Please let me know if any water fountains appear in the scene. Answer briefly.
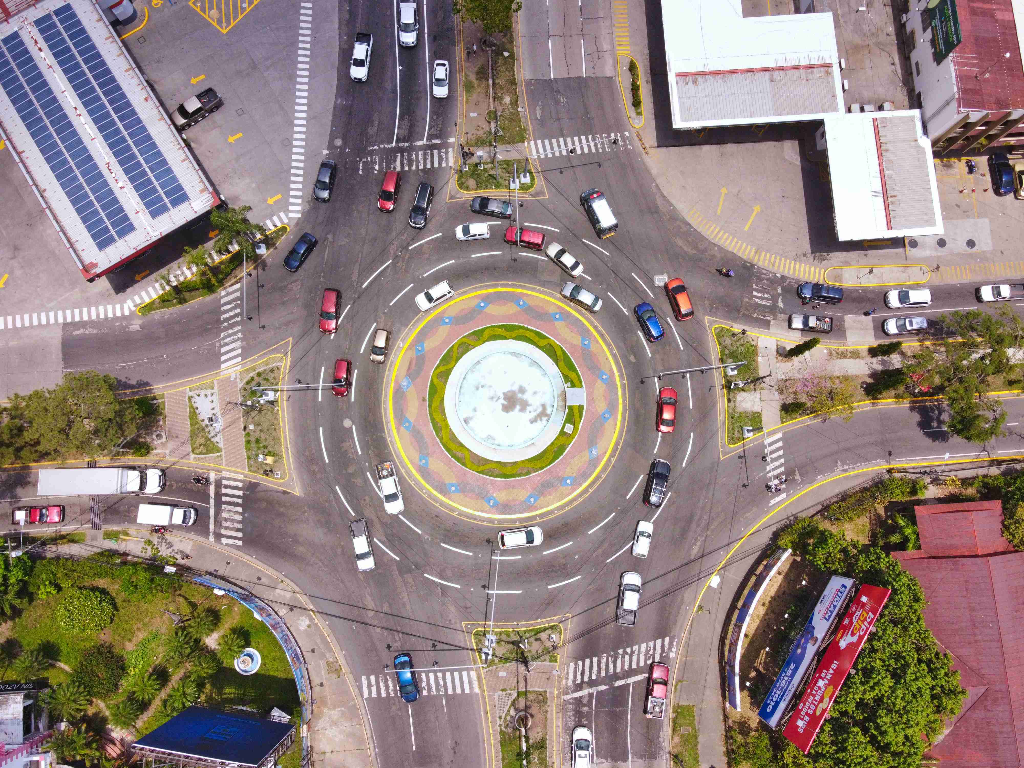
Yes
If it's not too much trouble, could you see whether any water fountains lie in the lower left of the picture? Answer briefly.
Yes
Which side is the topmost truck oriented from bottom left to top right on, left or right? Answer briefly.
left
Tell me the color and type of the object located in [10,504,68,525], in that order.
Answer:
red truck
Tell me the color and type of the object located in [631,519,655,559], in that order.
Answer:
white car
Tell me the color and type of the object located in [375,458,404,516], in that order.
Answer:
white truck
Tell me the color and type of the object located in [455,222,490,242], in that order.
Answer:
white car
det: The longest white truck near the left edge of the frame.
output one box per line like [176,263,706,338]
[25,467,172,496]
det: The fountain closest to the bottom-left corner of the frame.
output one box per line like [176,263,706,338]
[232,648,261,678]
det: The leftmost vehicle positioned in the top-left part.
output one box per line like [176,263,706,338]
[172,87,225,129]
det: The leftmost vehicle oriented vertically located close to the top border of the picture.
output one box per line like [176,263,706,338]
[349,31,373,84]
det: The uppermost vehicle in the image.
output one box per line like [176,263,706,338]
[398,0,418,44]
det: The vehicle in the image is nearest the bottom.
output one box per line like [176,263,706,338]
[571,725,593,768]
